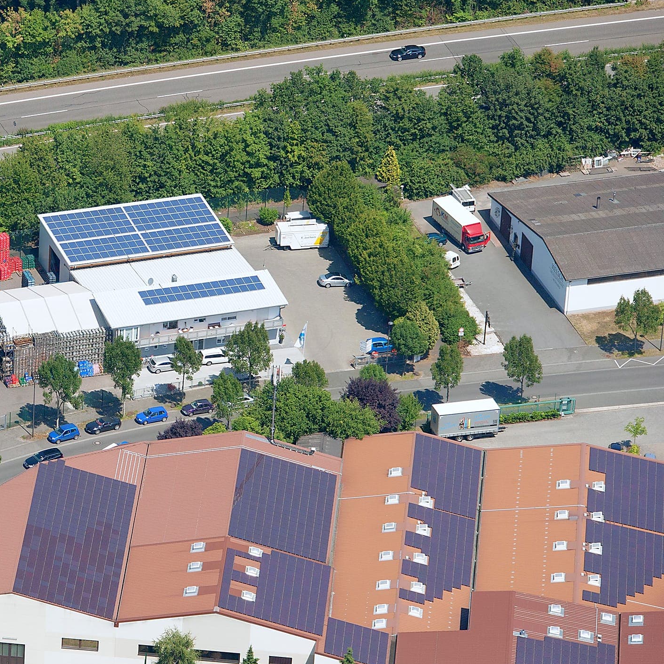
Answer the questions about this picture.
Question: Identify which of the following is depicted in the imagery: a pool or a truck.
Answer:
truck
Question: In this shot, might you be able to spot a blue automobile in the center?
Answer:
Yes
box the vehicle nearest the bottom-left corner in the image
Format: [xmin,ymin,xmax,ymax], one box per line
[22,444,62,468]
